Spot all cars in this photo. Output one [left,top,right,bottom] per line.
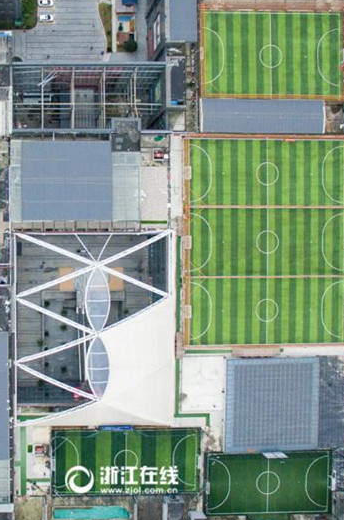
[38,15,54,22]
[38,0,54,7]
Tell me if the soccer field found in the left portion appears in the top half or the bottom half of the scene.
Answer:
bottom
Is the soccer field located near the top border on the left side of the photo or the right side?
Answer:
right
